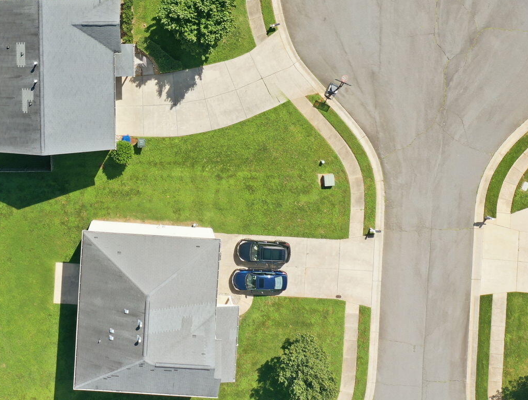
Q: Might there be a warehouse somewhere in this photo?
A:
No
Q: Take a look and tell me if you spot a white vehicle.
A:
No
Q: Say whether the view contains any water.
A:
No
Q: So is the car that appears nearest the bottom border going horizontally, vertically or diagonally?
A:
horizontally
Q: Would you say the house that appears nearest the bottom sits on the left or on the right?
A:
left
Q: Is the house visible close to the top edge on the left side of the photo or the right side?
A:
left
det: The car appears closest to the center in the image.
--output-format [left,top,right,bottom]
[237,239,294,267]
